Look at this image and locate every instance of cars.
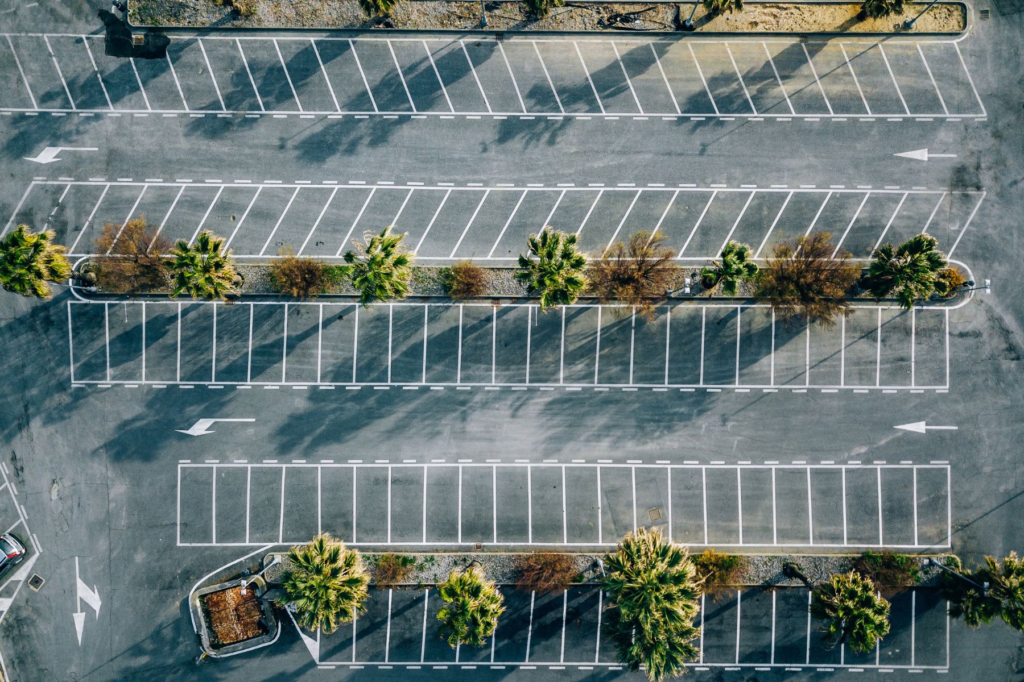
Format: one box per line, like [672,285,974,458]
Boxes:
[0,536,29,586]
